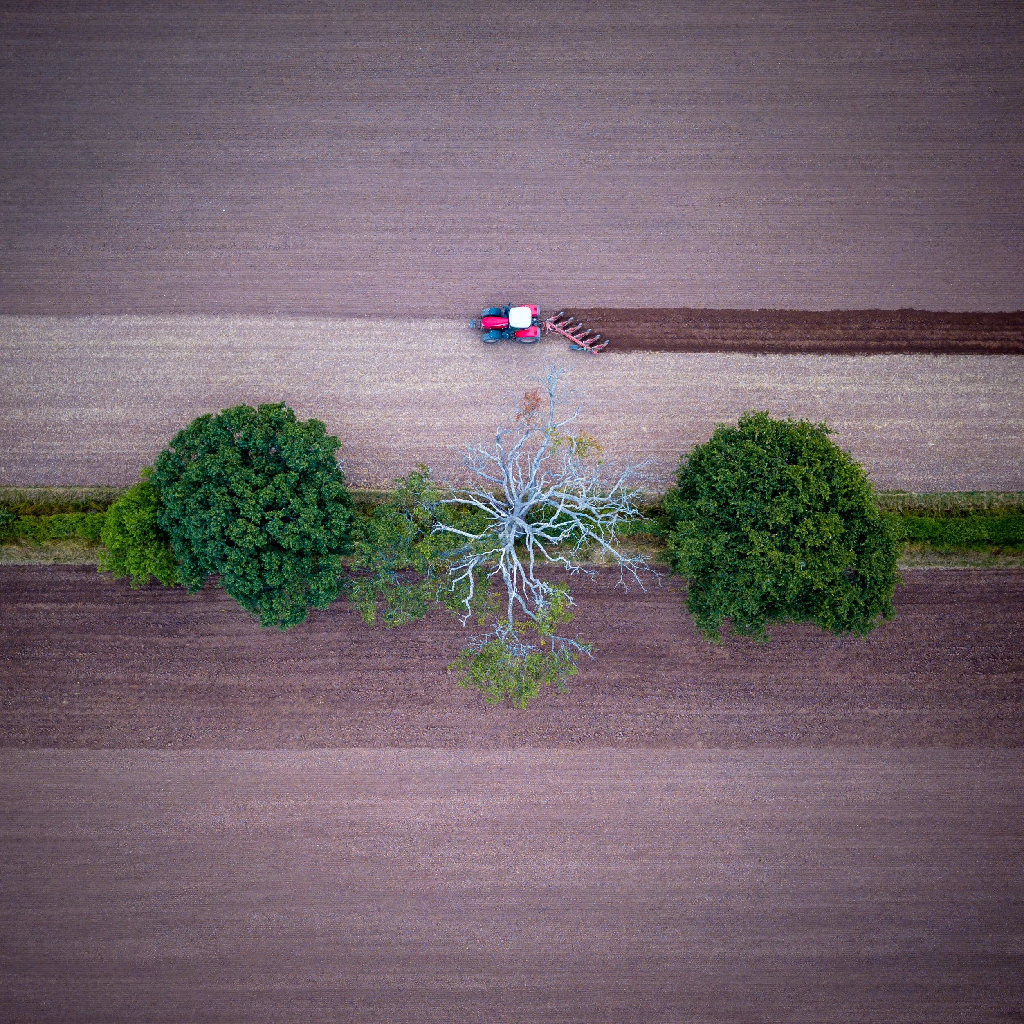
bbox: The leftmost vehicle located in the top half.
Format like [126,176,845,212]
[470,303,543,342]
